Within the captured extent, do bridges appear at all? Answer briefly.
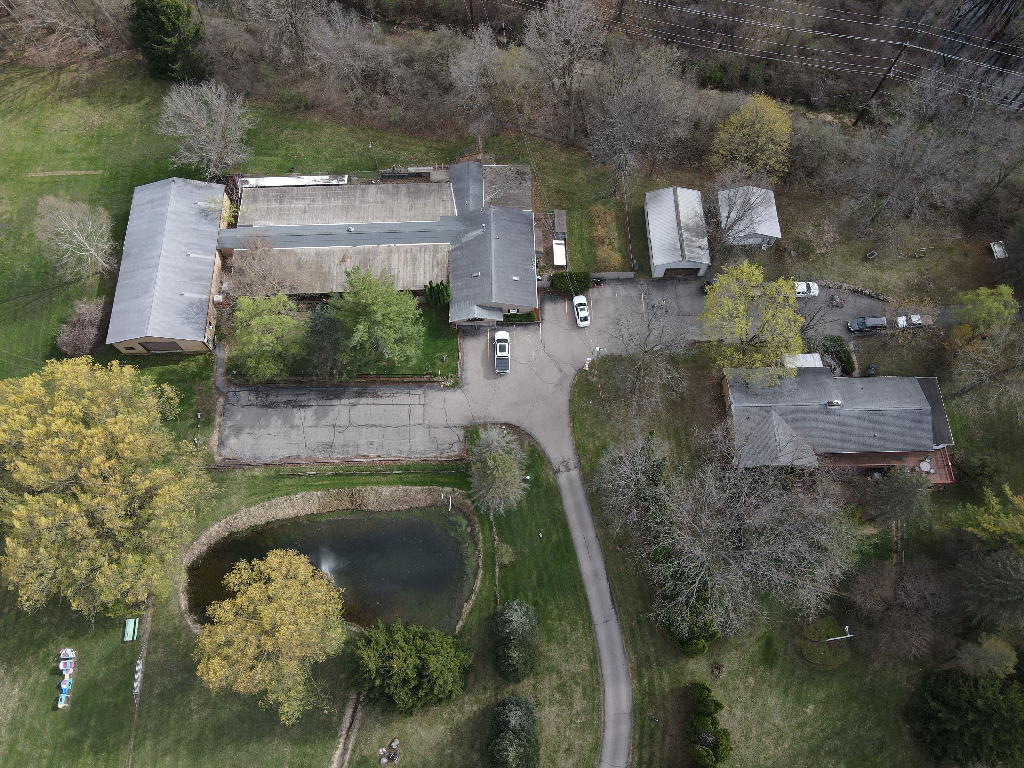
No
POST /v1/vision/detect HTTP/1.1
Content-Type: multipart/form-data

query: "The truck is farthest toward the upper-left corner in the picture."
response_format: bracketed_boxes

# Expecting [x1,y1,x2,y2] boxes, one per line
[492,331,513,377]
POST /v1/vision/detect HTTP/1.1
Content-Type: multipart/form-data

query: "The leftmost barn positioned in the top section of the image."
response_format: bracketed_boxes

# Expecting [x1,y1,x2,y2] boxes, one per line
[106,177,230,353]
